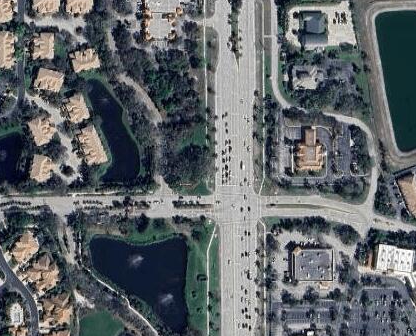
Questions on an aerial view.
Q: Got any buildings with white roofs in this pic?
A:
Yes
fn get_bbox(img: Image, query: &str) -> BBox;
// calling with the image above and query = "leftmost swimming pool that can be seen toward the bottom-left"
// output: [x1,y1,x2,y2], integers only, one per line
[10,303,23,325]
